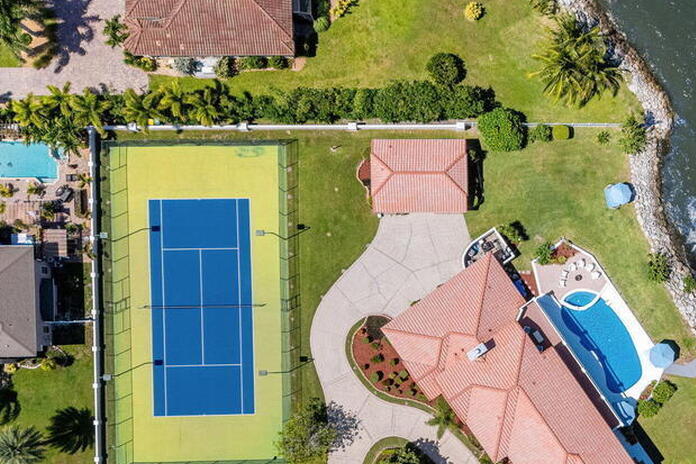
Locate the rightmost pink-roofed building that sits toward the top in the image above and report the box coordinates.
[371,139,468,215]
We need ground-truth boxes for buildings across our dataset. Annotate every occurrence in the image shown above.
[123,0,296,63]
[384,252,639,464]
[0,246,65,357]
[371,139,468,215]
